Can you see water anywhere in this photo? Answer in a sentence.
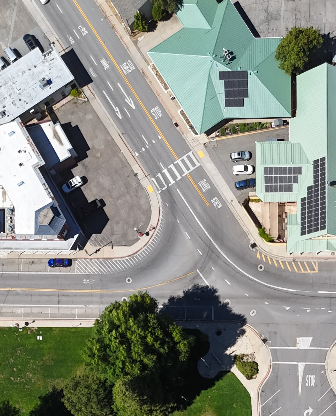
No, the scene doesn't show any water.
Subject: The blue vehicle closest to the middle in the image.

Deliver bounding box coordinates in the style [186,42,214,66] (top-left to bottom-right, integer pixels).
[234,178,256,191]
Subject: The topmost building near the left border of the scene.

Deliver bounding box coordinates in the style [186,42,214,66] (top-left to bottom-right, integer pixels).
[0,46,80,126]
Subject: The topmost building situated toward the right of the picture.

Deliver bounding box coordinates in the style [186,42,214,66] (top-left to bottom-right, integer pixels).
[148,0,292,135]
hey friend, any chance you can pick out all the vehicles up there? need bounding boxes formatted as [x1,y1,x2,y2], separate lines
[234,178,256,191]
[1,43,19,63]
[0,54,8,70]
[63,174,86,194]
[21,30,41,52]
[40,0,49,6]
[48,257,71,268]
[230,150,250,162]
[233,163,254,175]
